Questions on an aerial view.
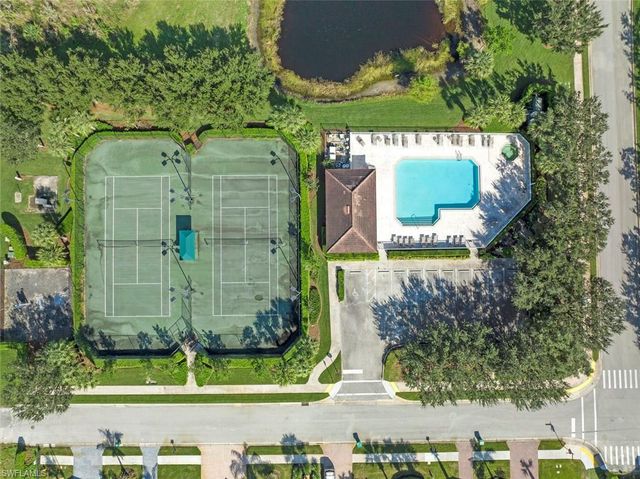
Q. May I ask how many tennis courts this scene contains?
2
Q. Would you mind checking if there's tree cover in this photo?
Yes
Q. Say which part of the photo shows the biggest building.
center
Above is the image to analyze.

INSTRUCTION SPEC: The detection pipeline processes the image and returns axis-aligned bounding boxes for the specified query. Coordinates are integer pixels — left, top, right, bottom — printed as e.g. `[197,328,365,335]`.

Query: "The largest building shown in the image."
[326,169,378,253]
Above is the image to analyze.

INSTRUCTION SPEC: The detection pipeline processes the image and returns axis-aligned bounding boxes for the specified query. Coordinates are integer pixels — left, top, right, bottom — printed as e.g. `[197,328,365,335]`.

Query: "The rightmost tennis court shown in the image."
[191,139,299,355]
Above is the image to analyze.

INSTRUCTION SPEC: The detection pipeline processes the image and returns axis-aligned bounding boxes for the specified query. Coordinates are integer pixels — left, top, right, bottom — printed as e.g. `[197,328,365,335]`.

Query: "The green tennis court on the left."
[86,139,191,355]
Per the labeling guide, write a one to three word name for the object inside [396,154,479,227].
swimming pool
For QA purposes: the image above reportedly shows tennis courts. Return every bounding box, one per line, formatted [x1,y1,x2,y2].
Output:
[191,139,299,355]
[86,139,191,355]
